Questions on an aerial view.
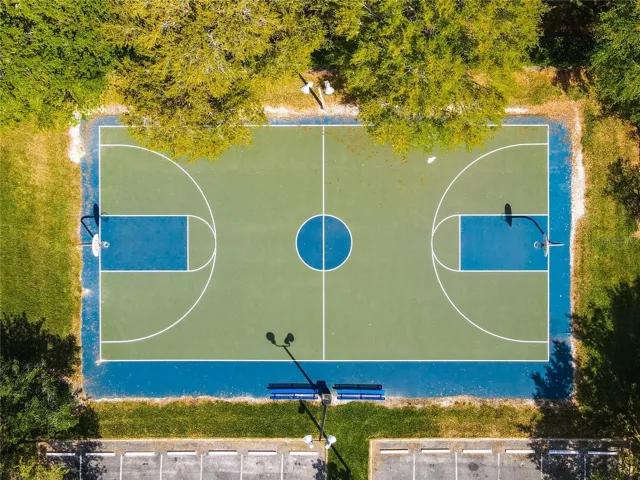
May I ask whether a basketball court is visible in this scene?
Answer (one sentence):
Yes, there's a basketball court here.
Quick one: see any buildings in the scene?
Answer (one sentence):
No, I can't see a single building in this photo.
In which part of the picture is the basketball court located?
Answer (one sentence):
The basketball court appears toward the center of the photo.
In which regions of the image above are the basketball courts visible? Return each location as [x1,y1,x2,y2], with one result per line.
[81,114,574,400]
